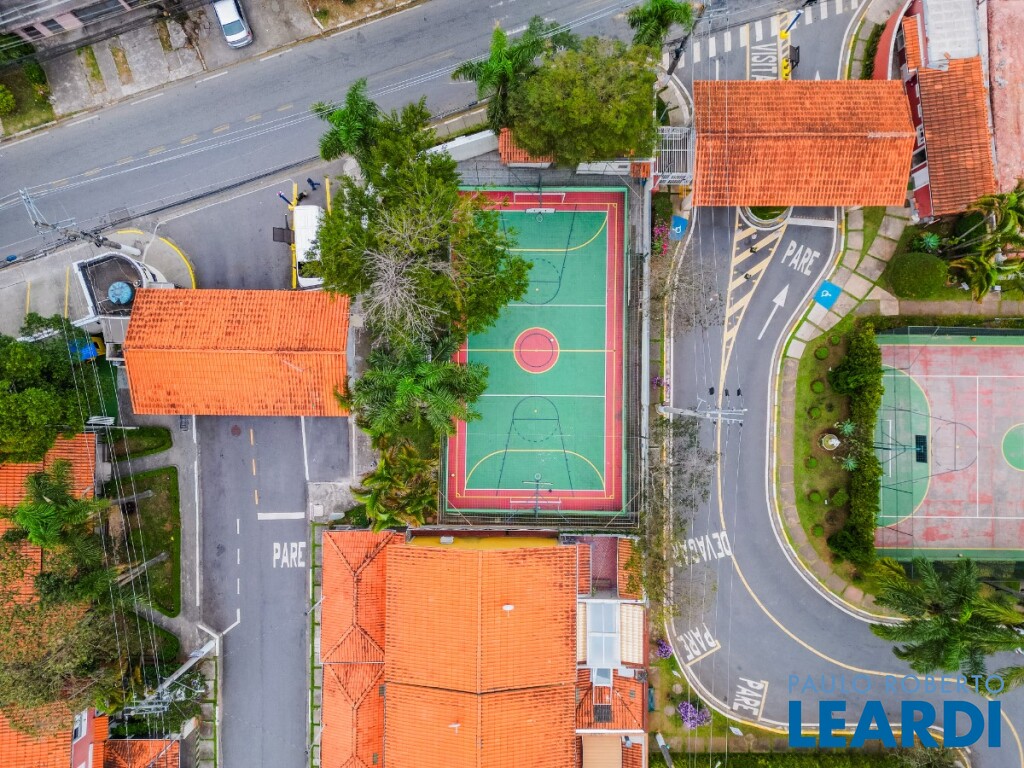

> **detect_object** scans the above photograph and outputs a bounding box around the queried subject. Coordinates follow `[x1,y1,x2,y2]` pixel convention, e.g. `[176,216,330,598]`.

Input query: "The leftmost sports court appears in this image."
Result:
[444,186,629,517]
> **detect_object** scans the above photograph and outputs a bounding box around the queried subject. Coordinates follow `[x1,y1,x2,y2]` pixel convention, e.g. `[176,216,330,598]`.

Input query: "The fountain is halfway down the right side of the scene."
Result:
[824,433,843,451]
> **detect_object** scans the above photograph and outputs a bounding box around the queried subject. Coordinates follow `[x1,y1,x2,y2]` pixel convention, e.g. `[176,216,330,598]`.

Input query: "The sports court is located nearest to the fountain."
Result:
[869,335,1024,560]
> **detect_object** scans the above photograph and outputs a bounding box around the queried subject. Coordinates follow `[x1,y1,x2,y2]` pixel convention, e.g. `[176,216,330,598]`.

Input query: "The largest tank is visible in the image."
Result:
[104,281,132,306]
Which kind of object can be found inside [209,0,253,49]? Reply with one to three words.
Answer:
car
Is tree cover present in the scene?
Yes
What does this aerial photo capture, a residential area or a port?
residential area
